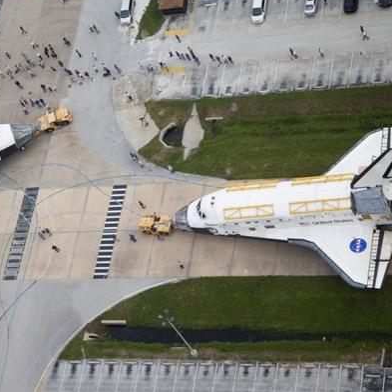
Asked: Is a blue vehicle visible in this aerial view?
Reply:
No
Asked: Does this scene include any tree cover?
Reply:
No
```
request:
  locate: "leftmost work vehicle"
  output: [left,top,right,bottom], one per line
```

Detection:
[38,106,74,137]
